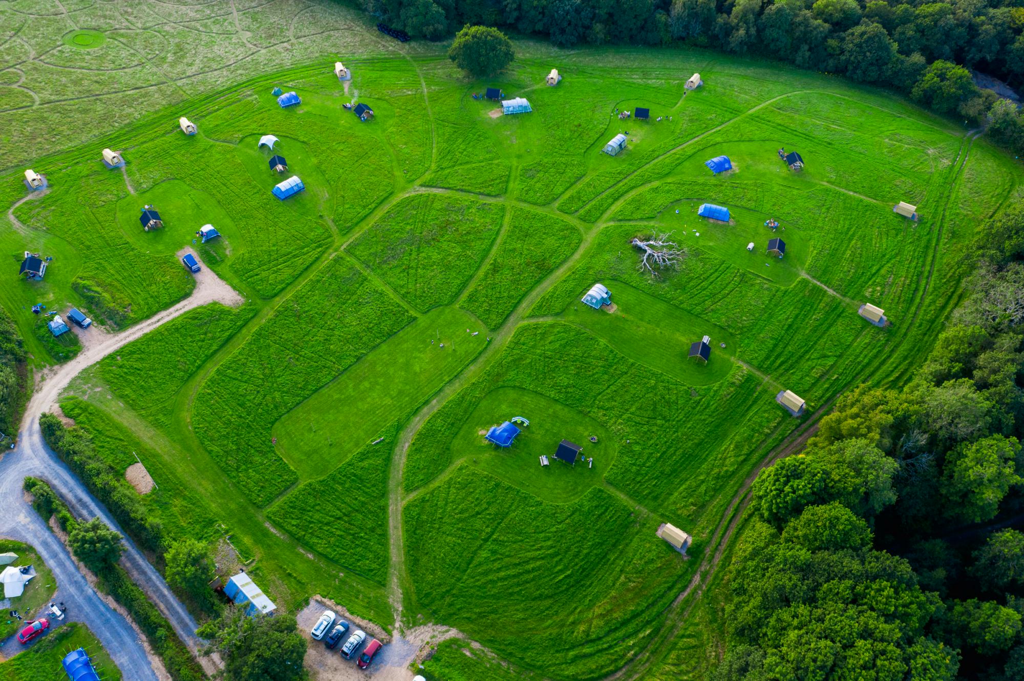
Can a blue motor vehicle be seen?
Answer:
Yes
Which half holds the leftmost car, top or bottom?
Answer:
bottom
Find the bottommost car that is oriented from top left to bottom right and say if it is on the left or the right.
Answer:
left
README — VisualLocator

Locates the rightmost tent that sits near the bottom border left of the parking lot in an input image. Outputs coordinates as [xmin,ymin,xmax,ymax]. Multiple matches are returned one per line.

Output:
[55,643,116,681]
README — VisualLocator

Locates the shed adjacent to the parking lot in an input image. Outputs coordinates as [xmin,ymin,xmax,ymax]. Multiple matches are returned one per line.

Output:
[223,573,280,619]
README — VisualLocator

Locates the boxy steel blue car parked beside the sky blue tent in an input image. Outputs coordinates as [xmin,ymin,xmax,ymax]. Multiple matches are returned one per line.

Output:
[66,308,92,329]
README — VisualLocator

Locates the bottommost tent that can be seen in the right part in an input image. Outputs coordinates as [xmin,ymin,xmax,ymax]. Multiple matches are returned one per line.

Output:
[659,522,689,552]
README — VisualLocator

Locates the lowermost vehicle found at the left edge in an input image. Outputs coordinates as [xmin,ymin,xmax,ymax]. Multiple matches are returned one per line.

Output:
[16,619,53,647]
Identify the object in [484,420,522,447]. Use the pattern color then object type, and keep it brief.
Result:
blue tent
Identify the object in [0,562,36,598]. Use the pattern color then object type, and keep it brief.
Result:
white tent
